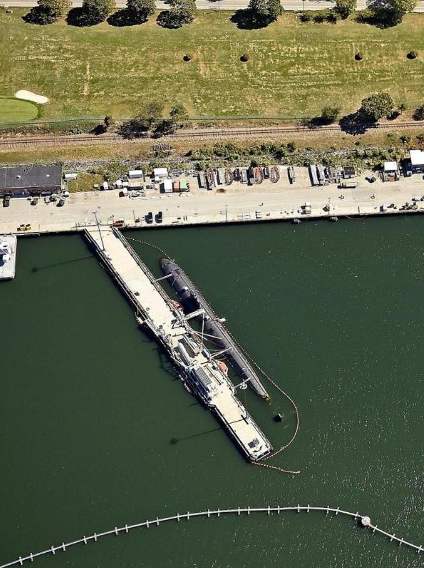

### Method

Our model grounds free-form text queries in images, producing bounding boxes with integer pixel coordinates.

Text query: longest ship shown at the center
[162,260,280,420]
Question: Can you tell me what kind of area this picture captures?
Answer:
port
